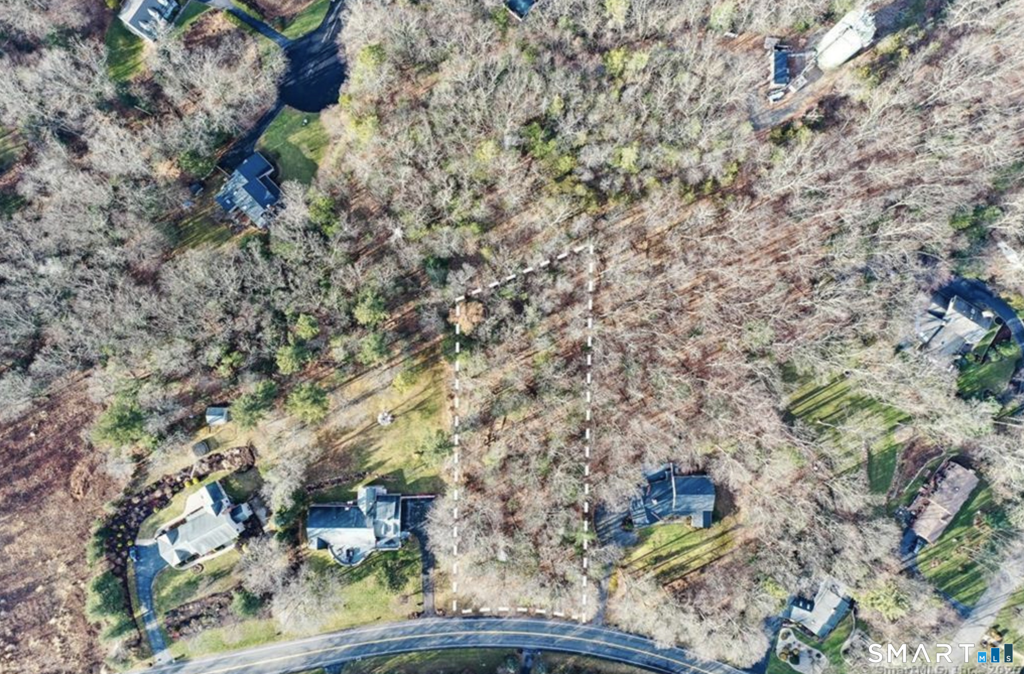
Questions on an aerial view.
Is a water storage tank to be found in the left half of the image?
No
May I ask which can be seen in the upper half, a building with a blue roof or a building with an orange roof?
building with a blue roof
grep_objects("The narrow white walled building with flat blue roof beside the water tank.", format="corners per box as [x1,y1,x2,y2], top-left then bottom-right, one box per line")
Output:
[770,50,790,89]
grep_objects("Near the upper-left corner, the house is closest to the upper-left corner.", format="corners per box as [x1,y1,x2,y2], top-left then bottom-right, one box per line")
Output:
[118,0,195,48]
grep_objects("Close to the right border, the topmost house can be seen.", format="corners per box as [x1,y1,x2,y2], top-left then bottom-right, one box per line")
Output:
[915,293,991,360]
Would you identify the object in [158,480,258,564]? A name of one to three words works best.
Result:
house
